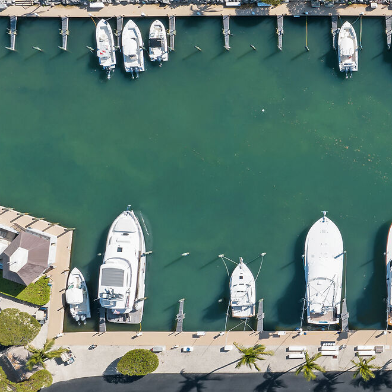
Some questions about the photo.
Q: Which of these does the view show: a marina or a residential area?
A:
marina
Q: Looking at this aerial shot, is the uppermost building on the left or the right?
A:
left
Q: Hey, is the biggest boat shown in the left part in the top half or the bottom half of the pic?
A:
bottom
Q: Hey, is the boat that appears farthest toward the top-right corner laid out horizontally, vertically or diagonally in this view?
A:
vertically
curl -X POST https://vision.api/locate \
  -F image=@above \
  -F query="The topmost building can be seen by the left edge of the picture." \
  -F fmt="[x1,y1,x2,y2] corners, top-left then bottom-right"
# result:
[3,233,59,286]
